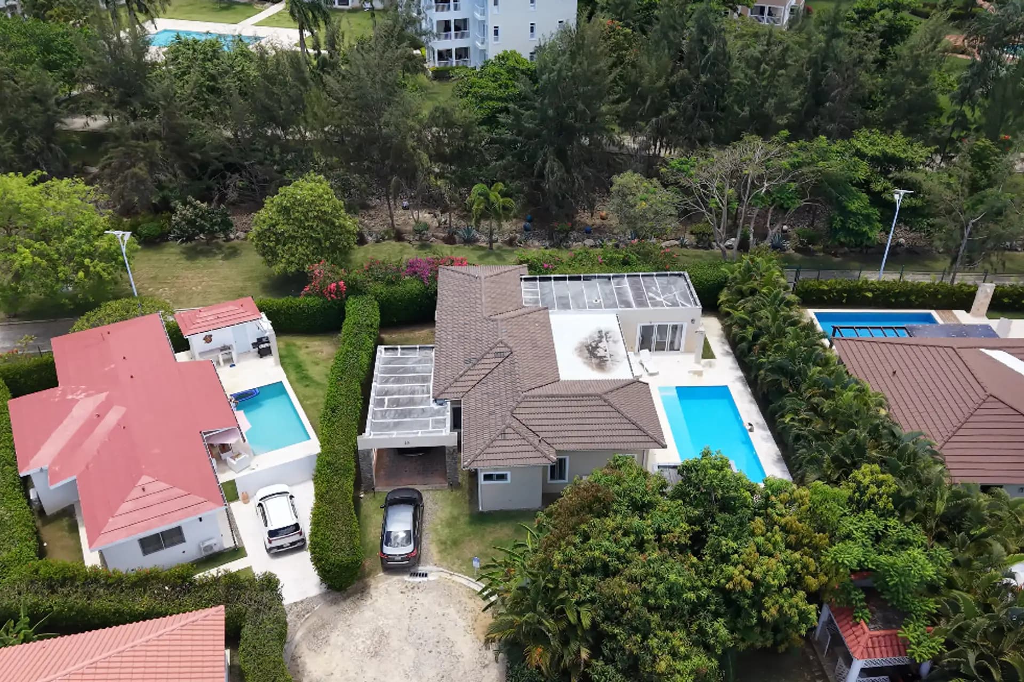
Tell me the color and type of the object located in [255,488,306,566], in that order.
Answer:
white car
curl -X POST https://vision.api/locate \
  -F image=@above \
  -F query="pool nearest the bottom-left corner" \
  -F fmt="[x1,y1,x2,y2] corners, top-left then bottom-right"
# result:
[235,382,310,456]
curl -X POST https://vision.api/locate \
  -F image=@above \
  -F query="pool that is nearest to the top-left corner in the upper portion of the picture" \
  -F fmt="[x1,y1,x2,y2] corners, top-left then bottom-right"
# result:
[150,28,271,54]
